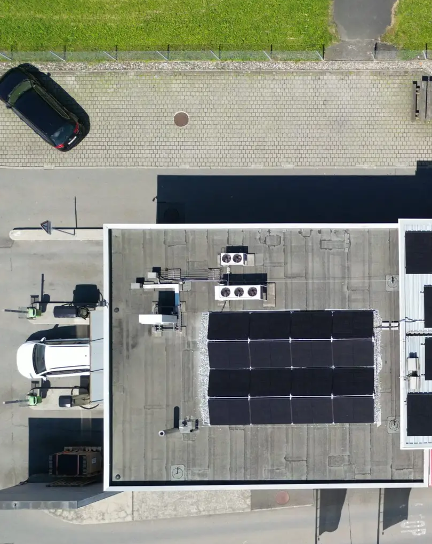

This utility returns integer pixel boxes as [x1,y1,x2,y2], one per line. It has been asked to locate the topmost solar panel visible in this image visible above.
[402,231,432,273]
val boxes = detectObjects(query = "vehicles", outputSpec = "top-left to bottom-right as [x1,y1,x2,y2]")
[16,335,104,386]
[0,63,89,155]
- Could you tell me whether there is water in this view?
No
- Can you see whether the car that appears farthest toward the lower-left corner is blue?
No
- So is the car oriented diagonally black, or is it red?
black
